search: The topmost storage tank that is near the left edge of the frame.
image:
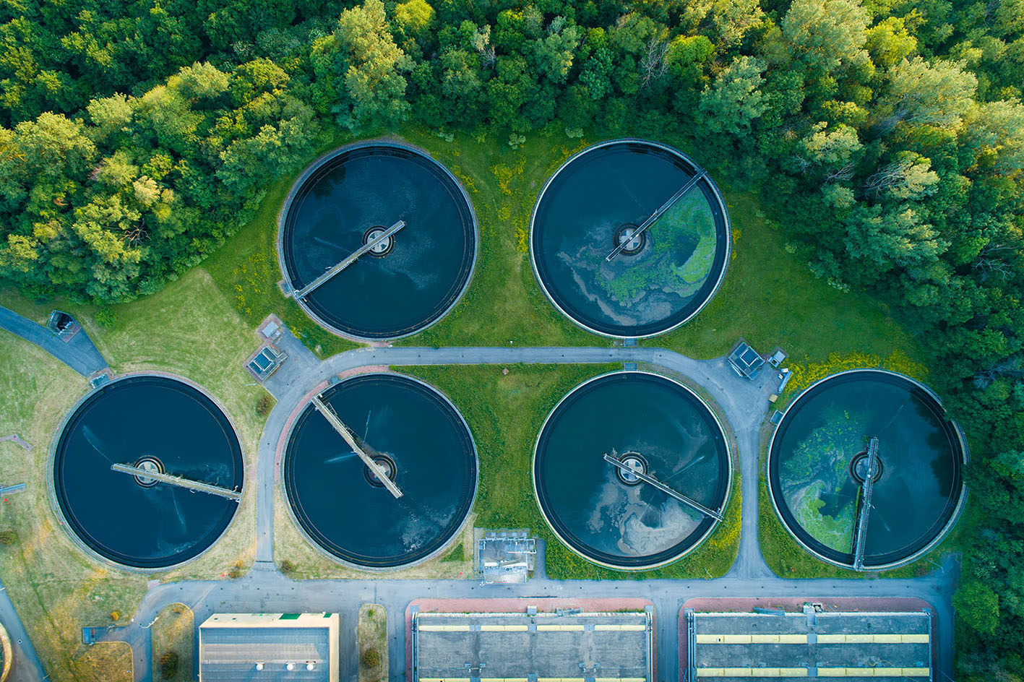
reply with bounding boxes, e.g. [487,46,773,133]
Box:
[46,372,249,572]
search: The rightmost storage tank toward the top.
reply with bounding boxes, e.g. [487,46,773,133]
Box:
[529,136,733,340]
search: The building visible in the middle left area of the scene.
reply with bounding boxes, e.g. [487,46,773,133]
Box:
[245,344,291,381]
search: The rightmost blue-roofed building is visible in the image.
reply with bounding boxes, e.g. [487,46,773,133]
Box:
[725,342,769,381]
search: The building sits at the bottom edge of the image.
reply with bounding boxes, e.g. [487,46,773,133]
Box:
[199,612,339,682]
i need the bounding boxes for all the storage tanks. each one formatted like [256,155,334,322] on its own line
[46,372,249,572]
[529,136,733,340]
[765,368,972,572]
[532,370,735,573]
[281,373,480,572]
[277,139,479,340]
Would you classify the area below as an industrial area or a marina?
industrial area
